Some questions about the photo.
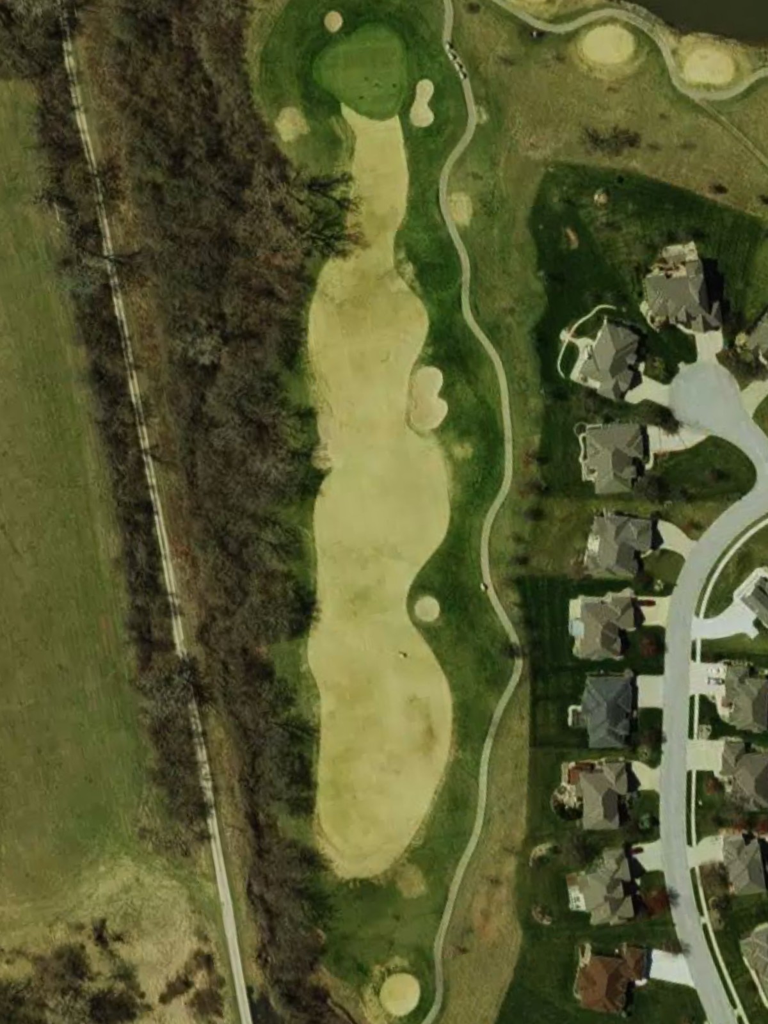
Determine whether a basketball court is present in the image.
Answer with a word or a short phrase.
No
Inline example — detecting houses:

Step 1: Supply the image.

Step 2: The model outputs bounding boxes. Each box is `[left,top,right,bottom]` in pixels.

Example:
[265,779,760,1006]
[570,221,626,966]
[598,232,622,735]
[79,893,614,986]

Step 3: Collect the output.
[584,510,652,575]
[581,676,632,748]
[645,240,723,333]
[579,322,643,397]
[724,665,768,730]
[582,763,629,830]
[580,944,646,1012]
[737,930,768,1011]
[737,573,768,632]
[746,311,768,361]
[569,597,635,659]
[722,742,768,813]
[722,832,768,897]
[566,845,635,924]
[584,424,643,494]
